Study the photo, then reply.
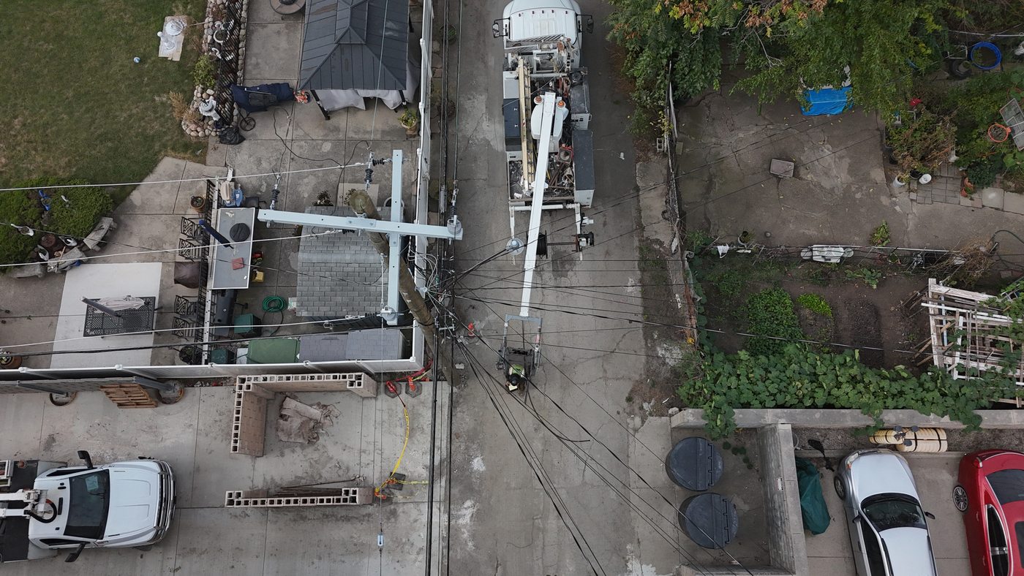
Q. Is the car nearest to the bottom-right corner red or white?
red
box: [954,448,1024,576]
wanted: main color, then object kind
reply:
red car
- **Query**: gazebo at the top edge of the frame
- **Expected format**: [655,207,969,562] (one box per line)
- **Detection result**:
[296,0,422,132]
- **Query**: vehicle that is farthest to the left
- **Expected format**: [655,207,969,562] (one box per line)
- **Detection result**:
[0,447,180,573]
